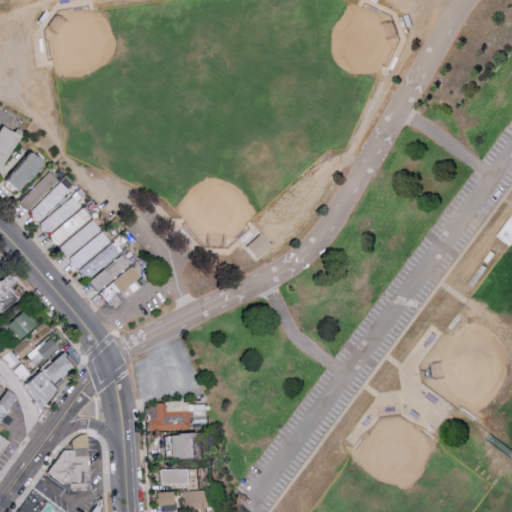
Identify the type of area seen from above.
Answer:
sports ground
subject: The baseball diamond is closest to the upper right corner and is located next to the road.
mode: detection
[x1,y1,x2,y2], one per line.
[222,0,399,136]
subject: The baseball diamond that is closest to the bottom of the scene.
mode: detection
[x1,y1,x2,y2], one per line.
[312,416,492,512]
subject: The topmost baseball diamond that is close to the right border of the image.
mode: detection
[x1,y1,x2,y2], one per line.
[421,244,512,412]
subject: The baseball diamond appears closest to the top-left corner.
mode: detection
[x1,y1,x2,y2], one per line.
[46,0,222,156]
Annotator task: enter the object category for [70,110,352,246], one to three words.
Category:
baseball field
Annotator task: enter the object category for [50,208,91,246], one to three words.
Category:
house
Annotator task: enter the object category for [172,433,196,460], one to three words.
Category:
building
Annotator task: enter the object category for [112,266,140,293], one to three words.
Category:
house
